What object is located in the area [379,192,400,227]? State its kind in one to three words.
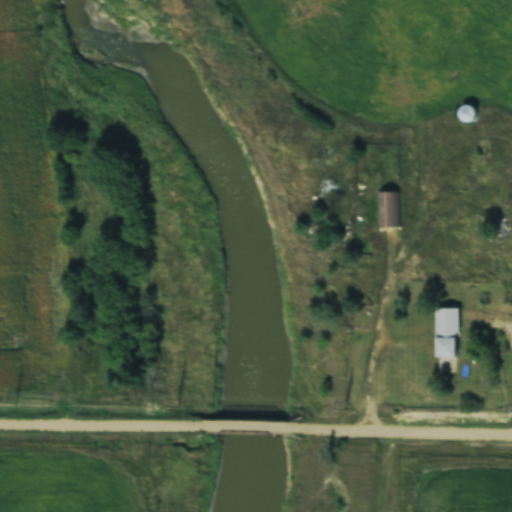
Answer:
barn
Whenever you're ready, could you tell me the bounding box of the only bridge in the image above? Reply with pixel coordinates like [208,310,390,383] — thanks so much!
[203,419,290,436]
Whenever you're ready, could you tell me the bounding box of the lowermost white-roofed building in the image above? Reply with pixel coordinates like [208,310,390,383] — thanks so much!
[434,308,460,358]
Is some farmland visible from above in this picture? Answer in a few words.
Yes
